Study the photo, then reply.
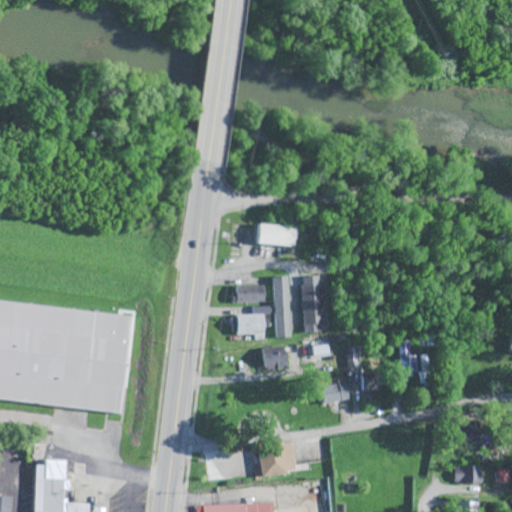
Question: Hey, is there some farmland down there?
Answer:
No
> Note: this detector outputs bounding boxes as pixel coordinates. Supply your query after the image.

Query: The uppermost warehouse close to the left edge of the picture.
[0,294,135,414]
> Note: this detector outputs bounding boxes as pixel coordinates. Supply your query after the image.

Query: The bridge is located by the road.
[197,0,249,154]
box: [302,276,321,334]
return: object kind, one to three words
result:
building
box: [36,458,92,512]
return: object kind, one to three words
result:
building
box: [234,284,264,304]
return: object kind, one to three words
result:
house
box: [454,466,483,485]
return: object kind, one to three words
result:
house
